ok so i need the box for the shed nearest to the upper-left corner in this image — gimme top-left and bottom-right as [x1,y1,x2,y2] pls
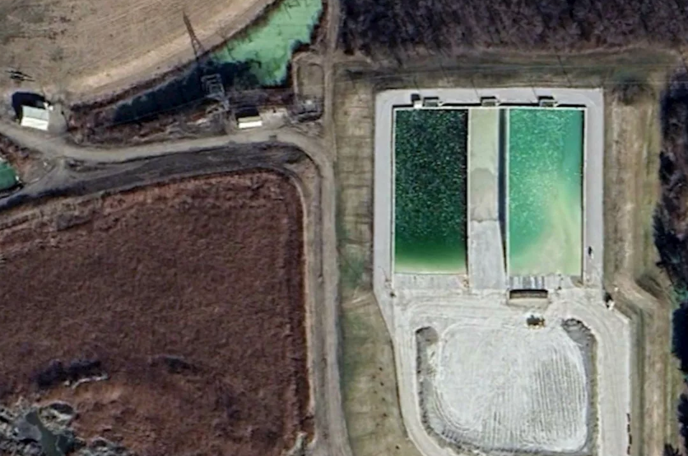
[19,101,50,129]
